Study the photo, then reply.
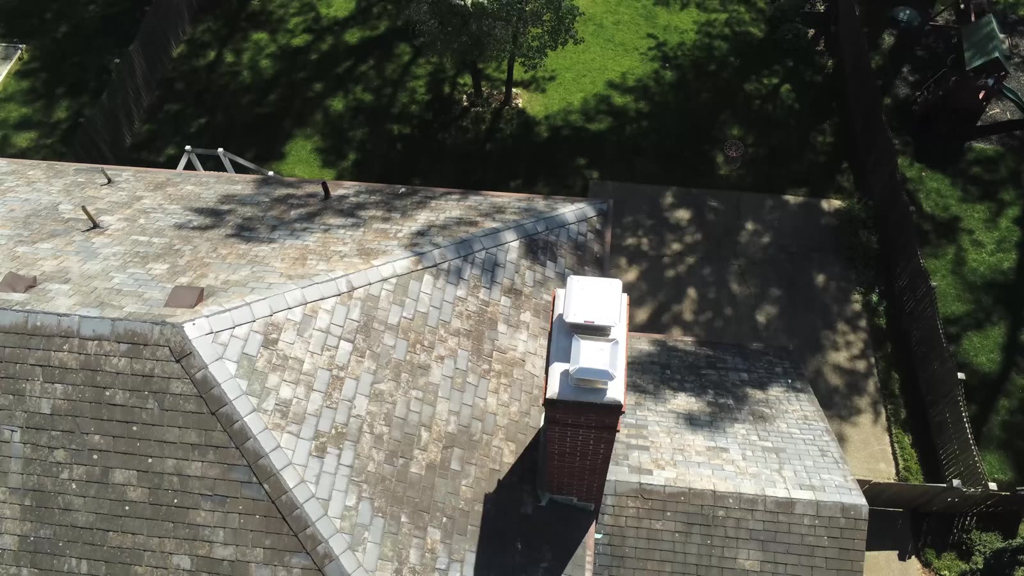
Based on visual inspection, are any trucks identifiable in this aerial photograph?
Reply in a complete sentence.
No, this view has no truck in it.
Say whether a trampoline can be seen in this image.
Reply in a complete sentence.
No, this view has no trampoline in it.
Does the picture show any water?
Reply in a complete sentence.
No, there is no water in the image.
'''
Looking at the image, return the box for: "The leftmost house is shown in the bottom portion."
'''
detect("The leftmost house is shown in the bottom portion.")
[0,158,870,576]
